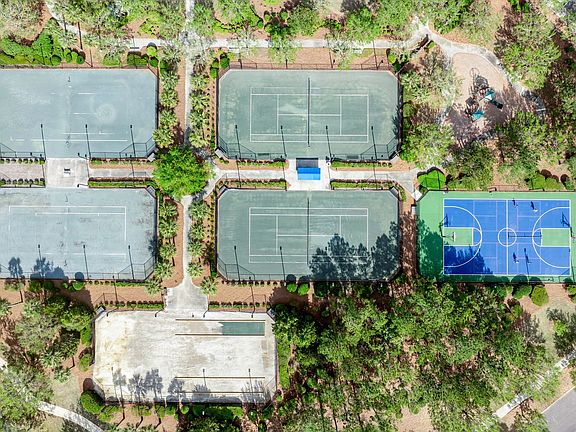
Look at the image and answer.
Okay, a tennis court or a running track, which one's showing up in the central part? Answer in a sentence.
The one visible in the central part is a tennis court.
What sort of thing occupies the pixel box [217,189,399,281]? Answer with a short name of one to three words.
tennis court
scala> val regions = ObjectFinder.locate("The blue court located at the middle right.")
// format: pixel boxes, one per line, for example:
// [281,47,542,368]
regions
[420,192,576,281]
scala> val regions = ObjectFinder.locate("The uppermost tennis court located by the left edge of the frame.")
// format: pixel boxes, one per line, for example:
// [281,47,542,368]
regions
[0,69,158,159]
